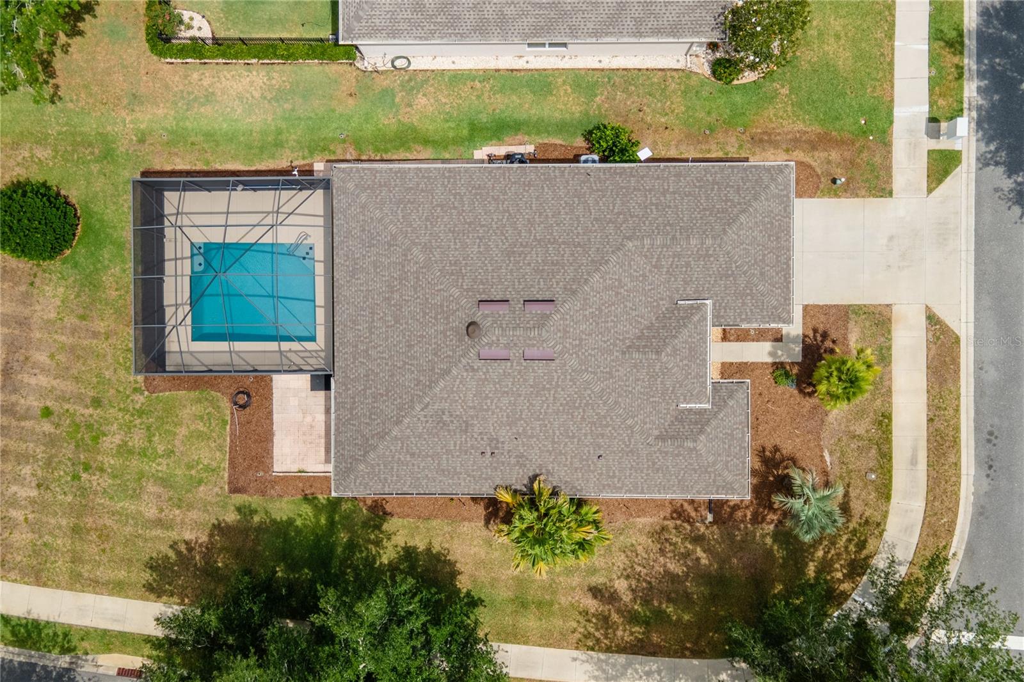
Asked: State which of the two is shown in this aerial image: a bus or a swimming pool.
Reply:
swimming pool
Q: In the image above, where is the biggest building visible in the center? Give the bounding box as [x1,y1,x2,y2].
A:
[331,162,796,499]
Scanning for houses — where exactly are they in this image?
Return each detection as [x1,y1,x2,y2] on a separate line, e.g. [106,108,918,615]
[331,162,796,499]
[338,0,730,56]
